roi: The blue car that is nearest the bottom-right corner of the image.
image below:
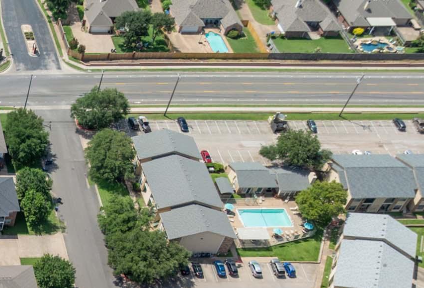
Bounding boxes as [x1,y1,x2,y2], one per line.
[283,261,296,279]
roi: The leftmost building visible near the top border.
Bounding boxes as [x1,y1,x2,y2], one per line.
[85,0,146,34]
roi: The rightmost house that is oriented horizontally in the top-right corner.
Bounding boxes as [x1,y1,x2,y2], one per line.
[332,0,416,35]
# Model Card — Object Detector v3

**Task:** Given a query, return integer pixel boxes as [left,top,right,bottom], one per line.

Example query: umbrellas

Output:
[271,227,283,236]
[224,203,235,211]
[303,223,315,230]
